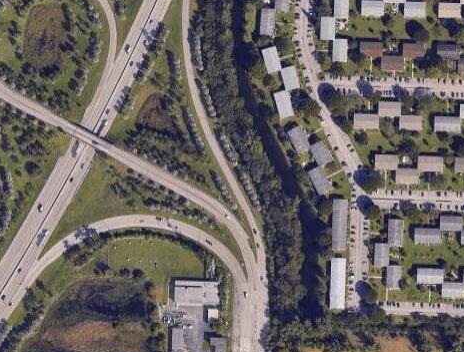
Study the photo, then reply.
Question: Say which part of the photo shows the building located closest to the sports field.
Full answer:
The building located closest to the sports field is located in the bottom region of the scene.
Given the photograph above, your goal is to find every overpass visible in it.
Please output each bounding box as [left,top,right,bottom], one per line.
[50,111,131,158]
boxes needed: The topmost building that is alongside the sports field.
[175,280,219,305]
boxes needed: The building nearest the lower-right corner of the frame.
[443,283,464,298]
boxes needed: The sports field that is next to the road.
[108,237,203,282]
